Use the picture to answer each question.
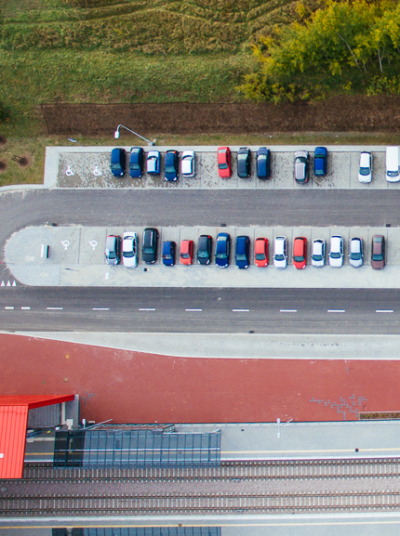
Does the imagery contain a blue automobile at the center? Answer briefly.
Yes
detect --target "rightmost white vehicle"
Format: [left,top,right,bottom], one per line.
[385,145,400,183]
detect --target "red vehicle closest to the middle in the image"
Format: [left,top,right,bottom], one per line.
[178,240,195,265]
